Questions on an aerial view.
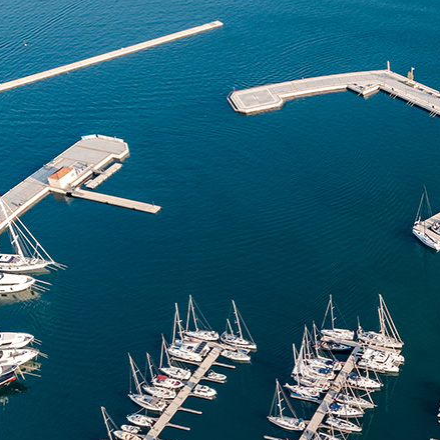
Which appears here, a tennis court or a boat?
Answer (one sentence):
This aerial view contains a boat.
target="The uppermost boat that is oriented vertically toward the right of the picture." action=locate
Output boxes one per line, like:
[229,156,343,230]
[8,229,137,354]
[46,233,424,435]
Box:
[408,187,440,249]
